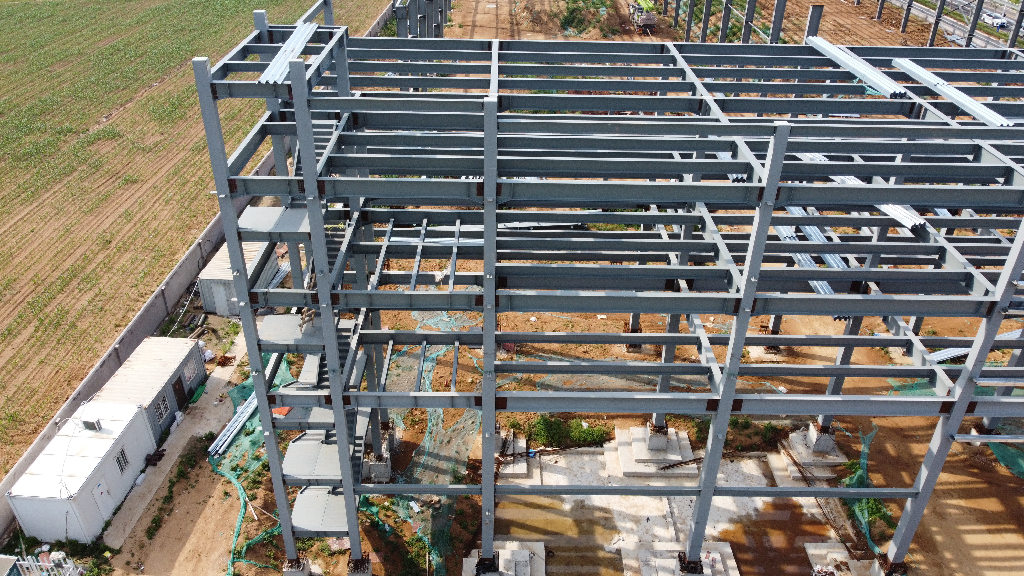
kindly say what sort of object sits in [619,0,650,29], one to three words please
truck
